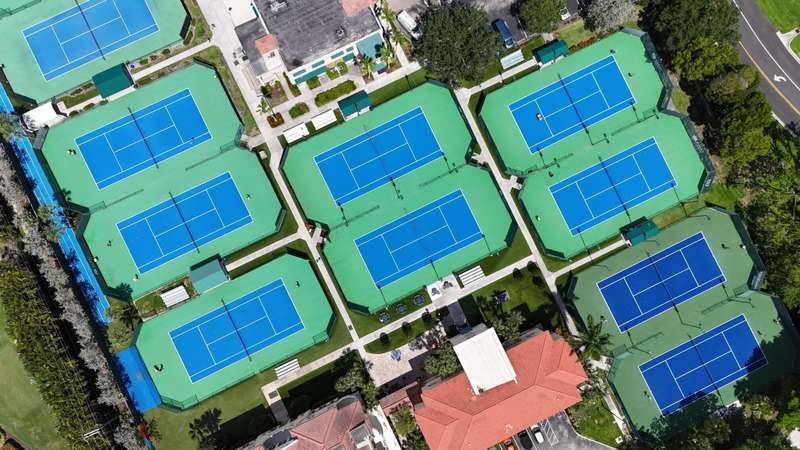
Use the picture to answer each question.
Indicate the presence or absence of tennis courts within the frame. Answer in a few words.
Yes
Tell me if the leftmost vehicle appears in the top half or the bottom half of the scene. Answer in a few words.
top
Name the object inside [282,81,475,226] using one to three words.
tennis court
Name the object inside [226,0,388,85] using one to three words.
building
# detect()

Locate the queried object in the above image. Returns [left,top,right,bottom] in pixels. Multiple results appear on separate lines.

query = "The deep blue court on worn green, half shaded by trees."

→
[610,283,797,440]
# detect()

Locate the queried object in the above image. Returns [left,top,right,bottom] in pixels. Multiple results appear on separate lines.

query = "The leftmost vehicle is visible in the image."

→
[397,9,421,41]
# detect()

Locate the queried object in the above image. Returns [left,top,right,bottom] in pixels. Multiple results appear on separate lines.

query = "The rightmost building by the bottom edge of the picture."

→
[416,323,588,450]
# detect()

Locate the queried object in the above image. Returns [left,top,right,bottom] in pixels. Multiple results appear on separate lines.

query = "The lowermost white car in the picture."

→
[530,423,547,445]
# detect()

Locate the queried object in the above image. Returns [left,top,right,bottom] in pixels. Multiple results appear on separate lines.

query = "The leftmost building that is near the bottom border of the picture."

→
[233,382,378,450]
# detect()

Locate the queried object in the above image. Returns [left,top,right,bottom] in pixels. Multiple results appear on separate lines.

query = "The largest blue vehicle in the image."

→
[495,20,513,48]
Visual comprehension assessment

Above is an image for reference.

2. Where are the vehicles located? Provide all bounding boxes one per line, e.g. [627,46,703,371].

[505,437,519,450]
[555,0,571,23]
[530,423,547,445]
[495,20,513,48]
[397,9,421,41]
[516,430,534,450]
